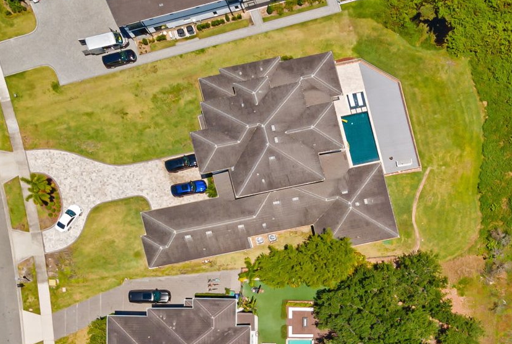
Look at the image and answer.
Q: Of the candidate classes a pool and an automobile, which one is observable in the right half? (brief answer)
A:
pool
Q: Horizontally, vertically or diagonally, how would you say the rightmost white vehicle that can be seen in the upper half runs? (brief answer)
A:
horizontally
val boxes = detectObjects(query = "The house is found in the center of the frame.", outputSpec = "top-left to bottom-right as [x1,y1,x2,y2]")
[141,50,400,270]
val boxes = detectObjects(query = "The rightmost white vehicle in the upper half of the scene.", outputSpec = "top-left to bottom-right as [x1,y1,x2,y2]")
[74,30,126,53]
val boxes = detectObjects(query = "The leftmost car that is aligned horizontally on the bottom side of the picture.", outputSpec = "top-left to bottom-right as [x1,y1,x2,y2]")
[129,286,170,305]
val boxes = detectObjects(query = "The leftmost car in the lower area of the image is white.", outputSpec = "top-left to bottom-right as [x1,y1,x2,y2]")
[52,202,85,235]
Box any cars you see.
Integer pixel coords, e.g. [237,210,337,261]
[129,286,170,305]
[170,180,207,197]
[163,153,198,173]
[52,202,85,235]
[101,47,138,68]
